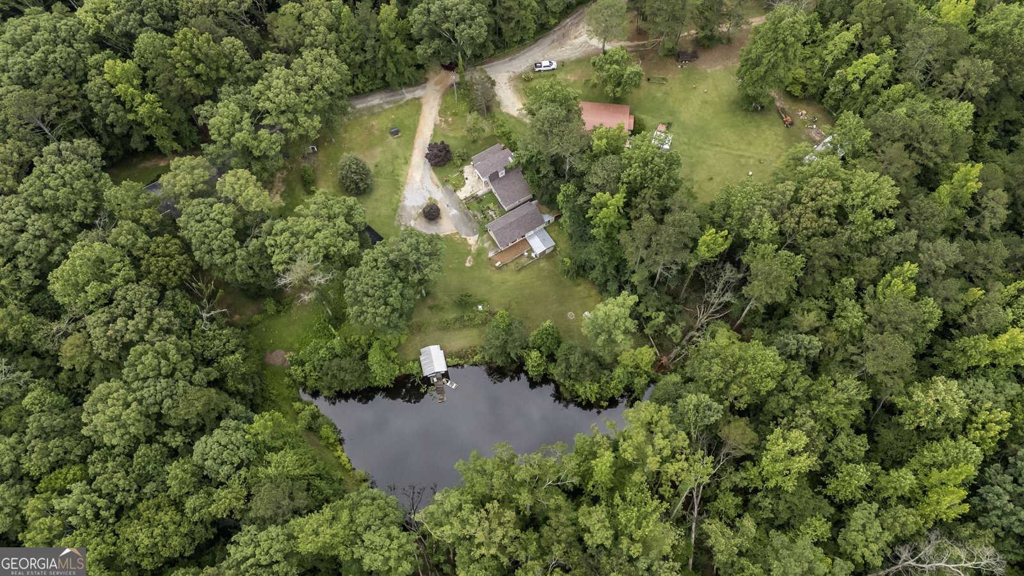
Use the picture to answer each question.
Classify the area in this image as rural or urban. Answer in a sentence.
The area is rural.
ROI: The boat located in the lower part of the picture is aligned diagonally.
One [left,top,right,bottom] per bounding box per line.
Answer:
[441,377,458,389]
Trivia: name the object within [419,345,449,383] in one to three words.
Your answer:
building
